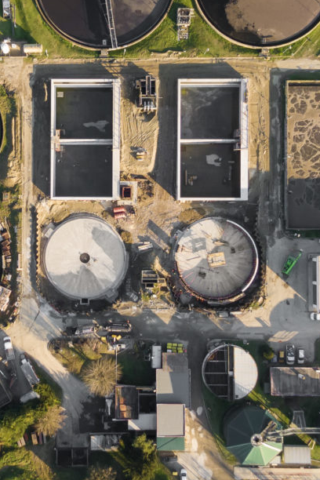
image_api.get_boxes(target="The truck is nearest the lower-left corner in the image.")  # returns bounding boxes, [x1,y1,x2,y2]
[19,356,41,391]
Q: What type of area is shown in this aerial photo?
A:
industrial area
